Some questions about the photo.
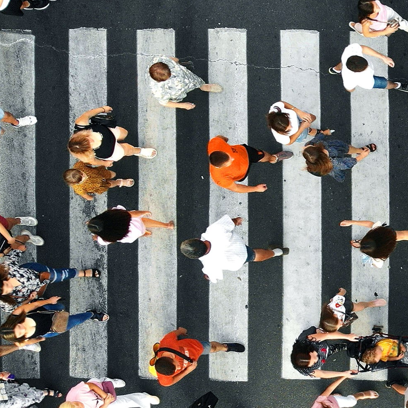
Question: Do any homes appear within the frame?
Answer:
No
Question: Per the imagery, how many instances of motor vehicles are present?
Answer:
none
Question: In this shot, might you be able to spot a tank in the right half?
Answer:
No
